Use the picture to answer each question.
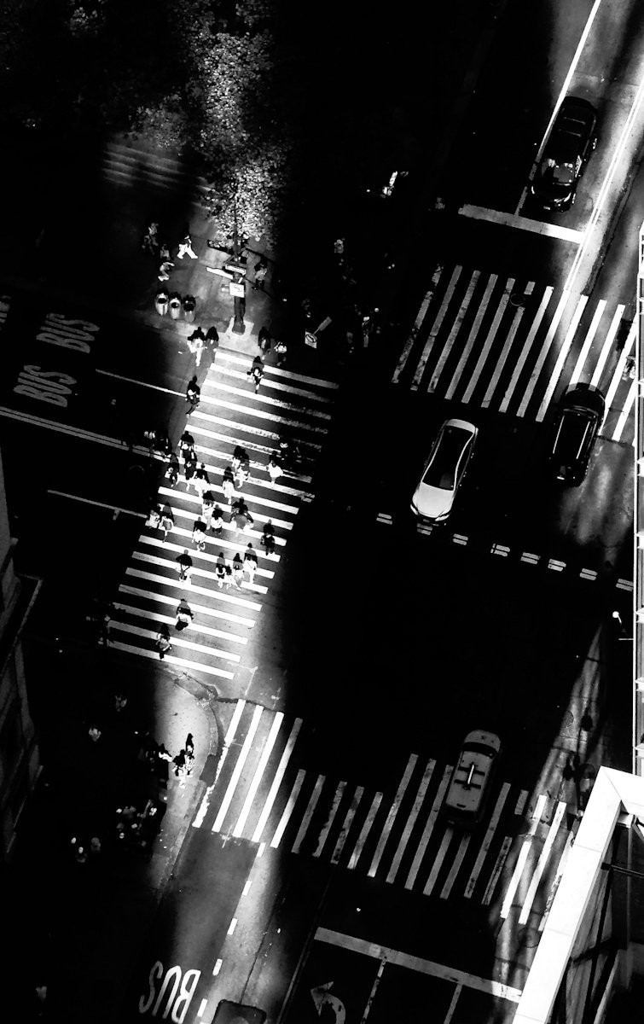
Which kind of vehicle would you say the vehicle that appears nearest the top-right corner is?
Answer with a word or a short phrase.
automobile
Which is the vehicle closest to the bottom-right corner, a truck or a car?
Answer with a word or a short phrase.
car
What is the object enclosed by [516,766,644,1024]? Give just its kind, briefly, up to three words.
building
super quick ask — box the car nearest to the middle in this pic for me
[414,420,476,522]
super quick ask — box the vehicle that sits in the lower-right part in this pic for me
[441,728,505,831]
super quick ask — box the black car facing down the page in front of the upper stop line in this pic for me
[529,109,590,207]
